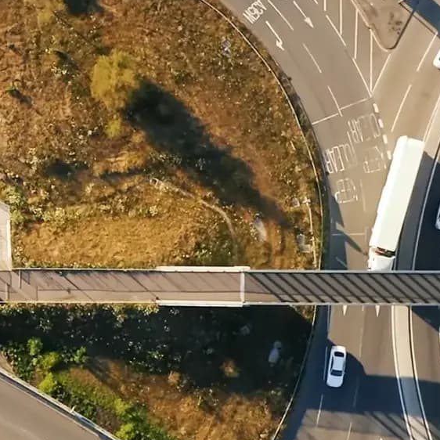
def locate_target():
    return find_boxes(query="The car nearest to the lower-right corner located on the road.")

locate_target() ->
[327,346,347,388]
